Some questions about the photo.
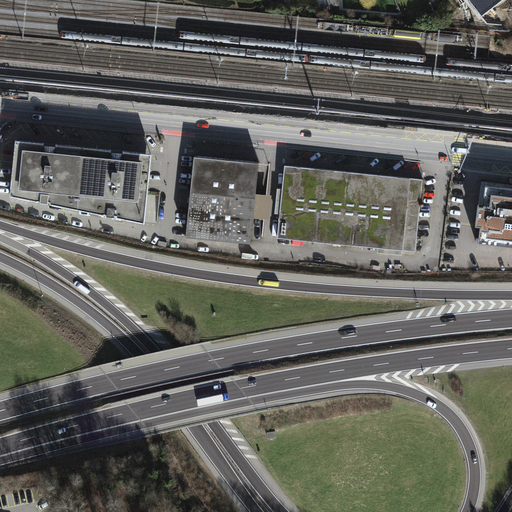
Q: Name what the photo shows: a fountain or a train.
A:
train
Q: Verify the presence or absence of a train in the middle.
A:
No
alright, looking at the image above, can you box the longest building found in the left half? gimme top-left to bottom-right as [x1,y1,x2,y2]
[9,140,151,224]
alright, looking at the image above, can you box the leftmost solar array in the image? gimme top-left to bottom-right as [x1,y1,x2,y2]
[80,158,106,196]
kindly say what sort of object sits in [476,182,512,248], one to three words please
building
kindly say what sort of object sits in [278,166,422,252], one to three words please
building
